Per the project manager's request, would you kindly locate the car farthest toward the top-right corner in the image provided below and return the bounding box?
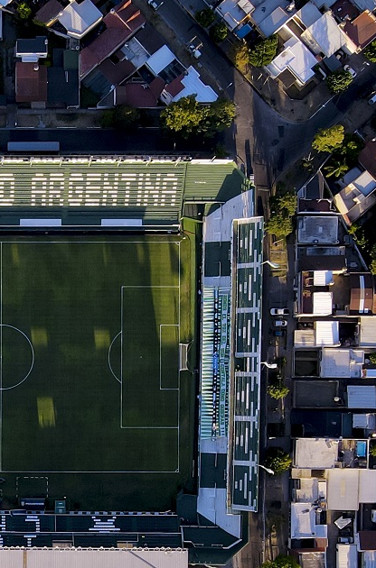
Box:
[343,65,356,78]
